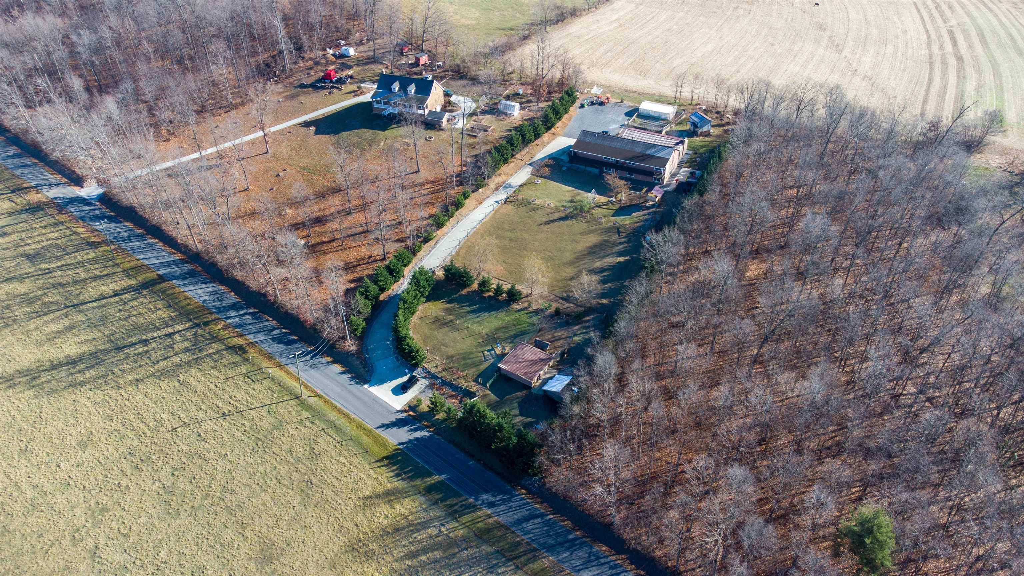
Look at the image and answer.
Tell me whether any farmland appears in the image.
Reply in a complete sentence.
Yes, there's farmland in this view.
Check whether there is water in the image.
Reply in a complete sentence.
No, the picture contains no water.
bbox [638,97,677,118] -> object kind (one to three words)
shed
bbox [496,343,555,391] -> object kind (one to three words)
barn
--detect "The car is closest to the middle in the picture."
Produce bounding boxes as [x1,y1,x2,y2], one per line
[400,371,419,393]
